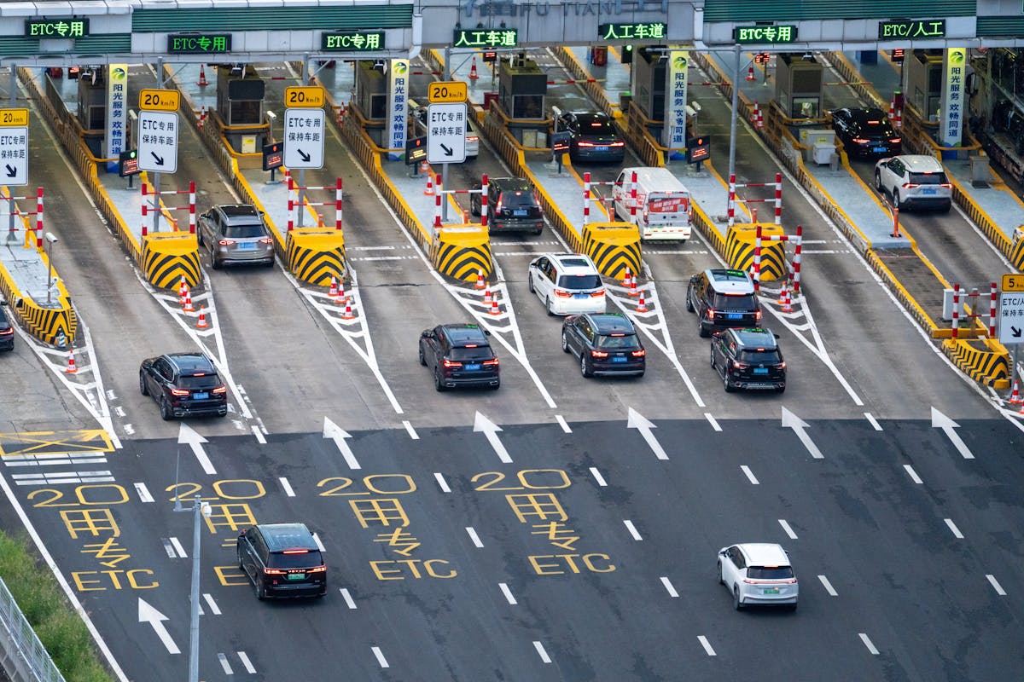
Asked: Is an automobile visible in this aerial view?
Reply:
Yes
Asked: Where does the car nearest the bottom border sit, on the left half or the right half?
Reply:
right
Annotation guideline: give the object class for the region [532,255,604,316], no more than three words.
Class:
car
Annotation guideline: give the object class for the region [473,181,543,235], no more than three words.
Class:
car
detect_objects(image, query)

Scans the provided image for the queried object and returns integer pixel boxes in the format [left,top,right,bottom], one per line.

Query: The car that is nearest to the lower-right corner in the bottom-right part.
[720,546,799,611]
